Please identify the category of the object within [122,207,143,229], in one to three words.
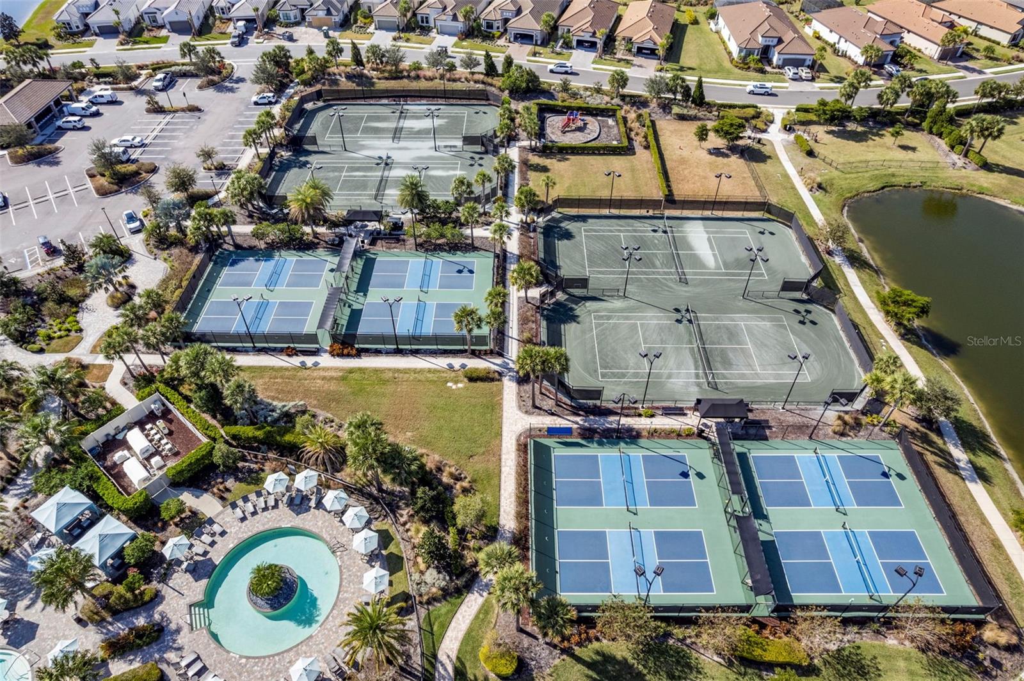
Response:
car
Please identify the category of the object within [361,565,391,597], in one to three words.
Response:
umbrella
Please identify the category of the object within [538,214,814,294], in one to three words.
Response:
tennis court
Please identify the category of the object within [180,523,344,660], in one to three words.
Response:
swimming pool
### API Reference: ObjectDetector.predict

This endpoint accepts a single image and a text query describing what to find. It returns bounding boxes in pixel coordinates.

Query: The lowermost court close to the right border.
[733,518,983,618]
